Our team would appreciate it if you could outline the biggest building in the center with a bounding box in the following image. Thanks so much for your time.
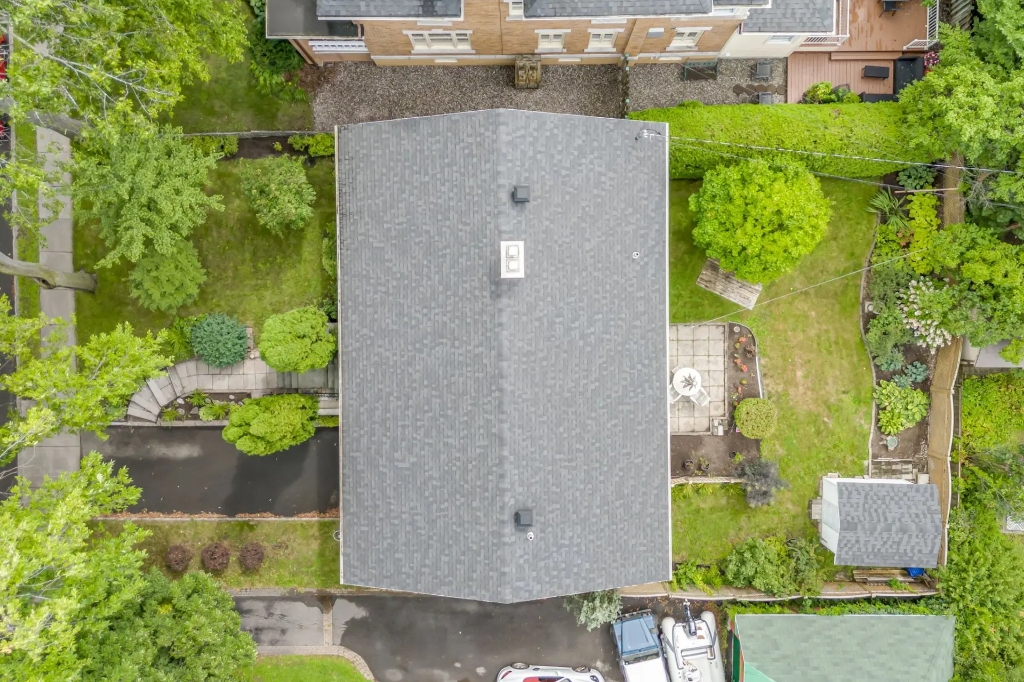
[335,106,674,602]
